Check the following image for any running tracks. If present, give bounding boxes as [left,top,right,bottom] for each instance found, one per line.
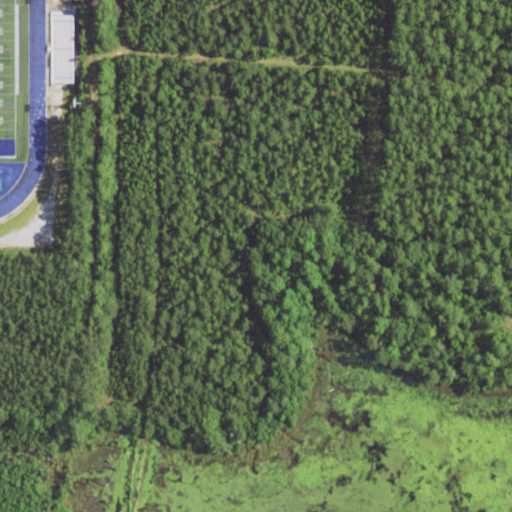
[0,0,46,219]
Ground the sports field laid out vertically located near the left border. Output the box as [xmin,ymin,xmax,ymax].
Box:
[0,0,28,196]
